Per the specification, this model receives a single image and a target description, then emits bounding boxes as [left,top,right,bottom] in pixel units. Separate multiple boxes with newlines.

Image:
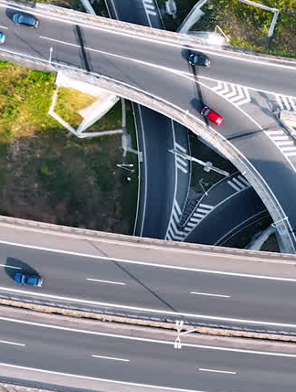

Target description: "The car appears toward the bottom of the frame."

[14,272,42,286]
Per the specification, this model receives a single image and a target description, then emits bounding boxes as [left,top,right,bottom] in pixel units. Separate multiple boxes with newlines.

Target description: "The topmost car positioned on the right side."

[187,53,210,66]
